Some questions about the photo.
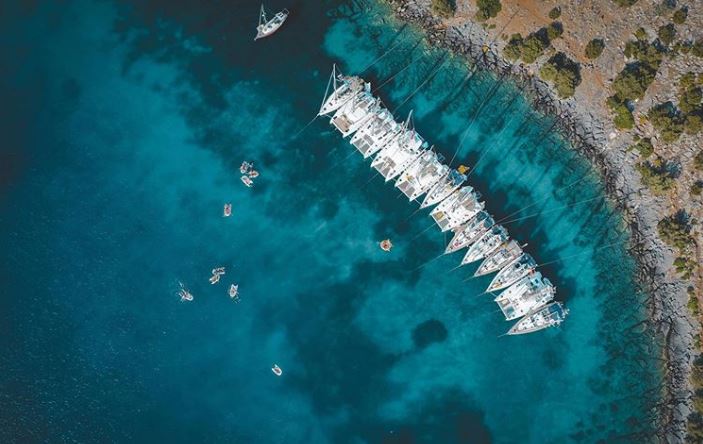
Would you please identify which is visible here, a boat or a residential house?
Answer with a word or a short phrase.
boat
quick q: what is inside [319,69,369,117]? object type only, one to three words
boat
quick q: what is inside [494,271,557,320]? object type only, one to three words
boat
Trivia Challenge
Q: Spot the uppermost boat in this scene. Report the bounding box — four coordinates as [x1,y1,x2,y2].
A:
[255,8,290,41]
